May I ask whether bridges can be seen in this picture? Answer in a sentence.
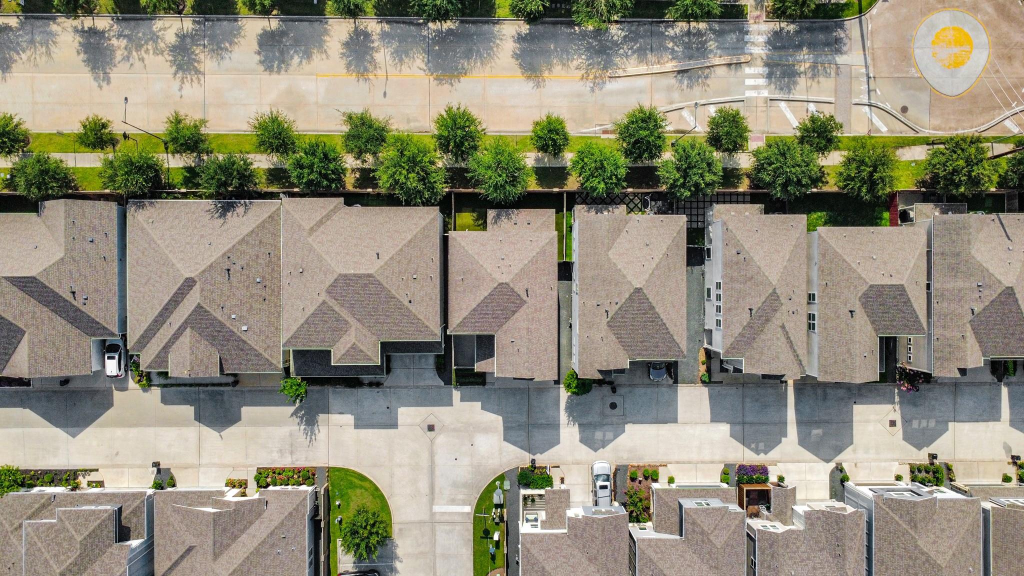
No, the frame has no bridge in it.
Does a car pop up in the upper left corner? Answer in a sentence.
No, in the upper left corner there is no car.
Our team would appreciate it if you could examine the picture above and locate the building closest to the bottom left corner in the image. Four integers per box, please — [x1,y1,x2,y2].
[0,487,154,576]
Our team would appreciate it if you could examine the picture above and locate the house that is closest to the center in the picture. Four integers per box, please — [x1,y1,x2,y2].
[448,209,558,380]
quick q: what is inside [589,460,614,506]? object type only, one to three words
car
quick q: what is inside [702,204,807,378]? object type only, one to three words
house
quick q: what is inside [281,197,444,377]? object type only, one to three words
house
